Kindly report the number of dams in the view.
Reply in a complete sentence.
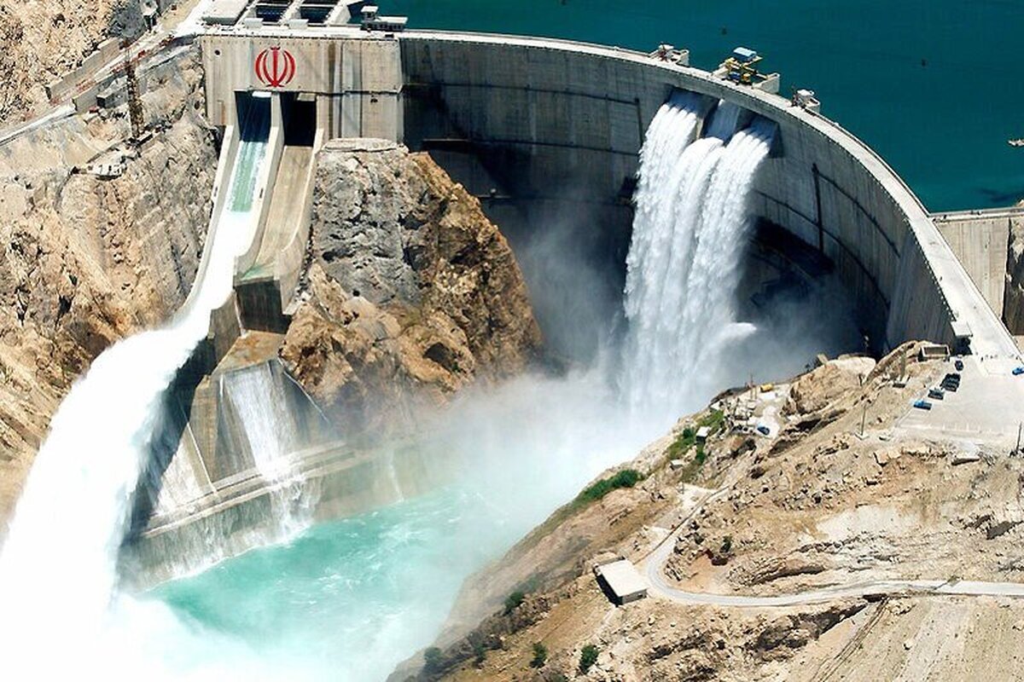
I count just 1 dam.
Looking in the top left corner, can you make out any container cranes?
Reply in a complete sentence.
No, in the top left corner there is no container crane.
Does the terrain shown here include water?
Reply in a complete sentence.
Yes, some water is visible.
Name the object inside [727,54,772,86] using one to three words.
container crane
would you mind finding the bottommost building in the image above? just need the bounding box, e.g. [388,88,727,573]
[594,558,650,614]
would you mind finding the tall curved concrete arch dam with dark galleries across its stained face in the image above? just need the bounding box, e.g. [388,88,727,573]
[396,29,991,410]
